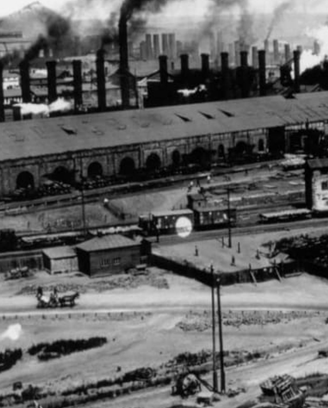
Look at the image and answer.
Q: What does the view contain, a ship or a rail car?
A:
rail car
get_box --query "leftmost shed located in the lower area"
[47,247,79,274]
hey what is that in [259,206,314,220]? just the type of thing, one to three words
rail car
